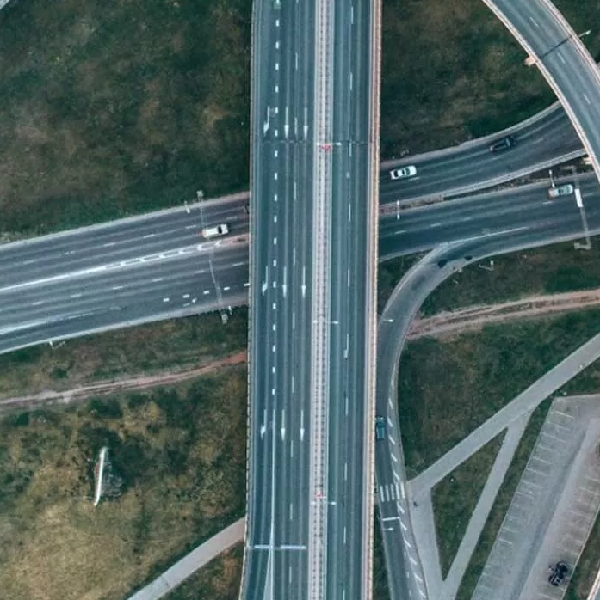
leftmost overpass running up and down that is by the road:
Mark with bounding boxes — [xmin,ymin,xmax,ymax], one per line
[238,0,381,600]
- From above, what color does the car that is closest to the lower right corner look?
black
